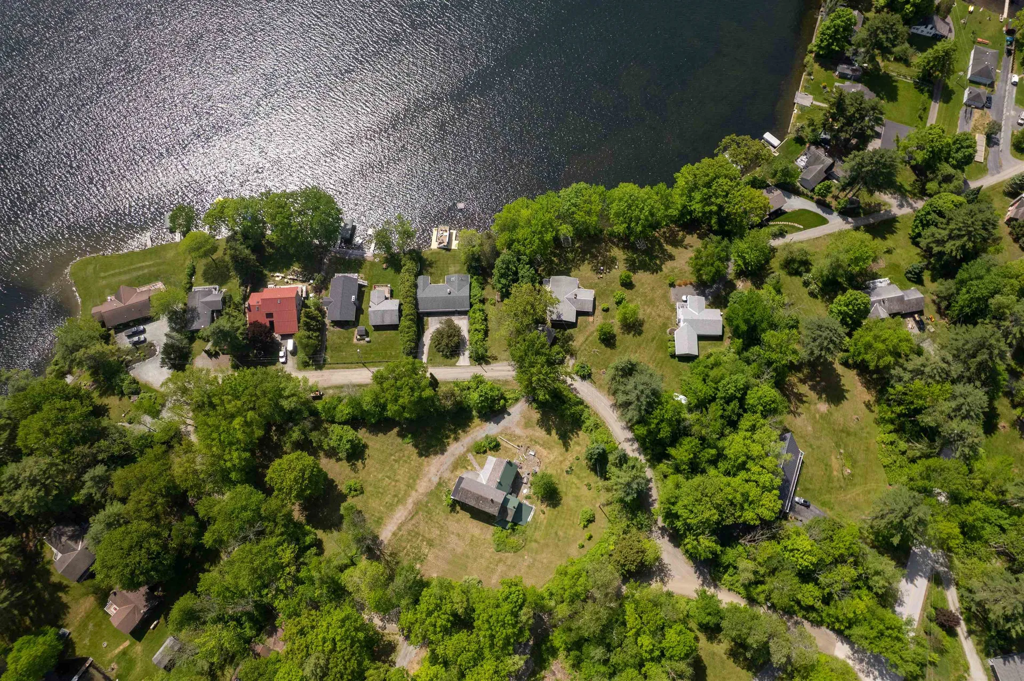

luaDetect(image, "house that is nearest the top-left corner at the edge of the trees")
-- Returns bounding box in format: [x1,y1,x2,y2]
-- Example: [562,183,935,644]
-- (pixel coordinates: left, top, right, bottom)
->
[92,281,168,329]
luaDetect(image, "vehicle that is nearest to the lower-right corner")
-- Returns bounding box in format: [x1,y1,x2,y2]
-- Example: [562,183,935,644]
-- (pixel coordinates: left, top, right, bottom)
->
[794,496,814,508]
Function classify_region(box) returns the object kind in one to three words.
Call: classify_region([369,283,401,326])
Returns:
house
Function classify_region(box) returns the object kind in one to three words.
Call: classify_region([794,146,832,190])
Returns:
house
